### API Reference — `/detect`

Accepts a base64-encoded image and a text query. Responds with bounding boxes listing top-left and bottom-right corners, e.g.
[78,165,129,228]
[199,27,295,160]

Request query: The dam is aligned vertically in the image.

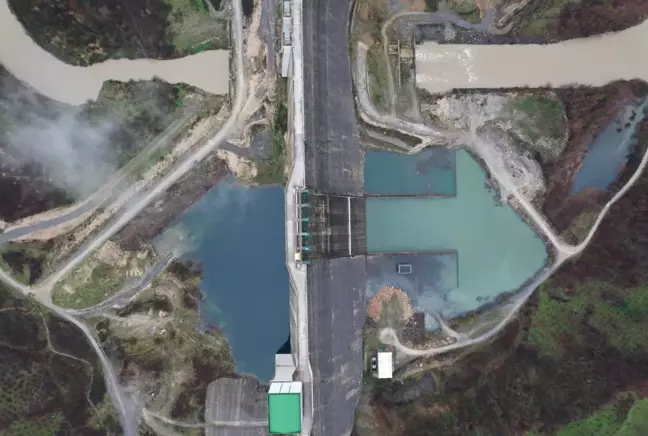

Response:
[285,0,368,436]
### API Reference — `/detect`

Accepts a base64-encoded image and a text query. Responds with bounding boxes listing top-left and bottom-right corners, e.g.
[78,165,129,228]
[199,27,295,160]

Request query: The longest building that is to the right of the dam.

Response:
[378,351,392,378]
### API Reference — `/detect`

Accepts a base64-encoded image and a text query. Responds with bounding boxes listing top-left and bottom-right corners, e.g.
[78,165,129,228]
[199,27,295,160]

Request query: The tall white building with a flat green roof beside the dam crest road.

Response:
[269,382,301,433]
